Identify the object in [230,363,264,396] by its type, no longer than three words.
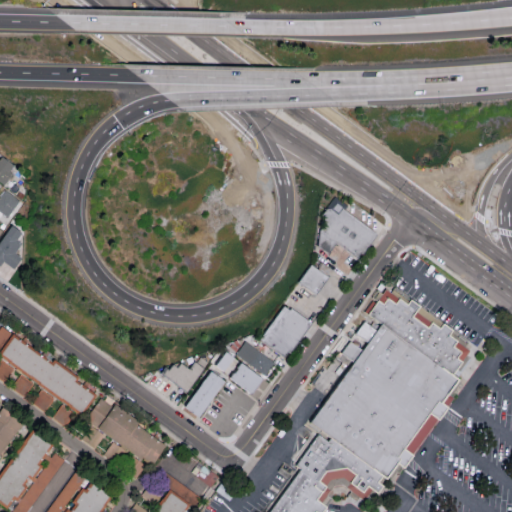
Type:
building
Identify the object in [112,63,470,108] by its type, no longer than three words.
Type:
overpass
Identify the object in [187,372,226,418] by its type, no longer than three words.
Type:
building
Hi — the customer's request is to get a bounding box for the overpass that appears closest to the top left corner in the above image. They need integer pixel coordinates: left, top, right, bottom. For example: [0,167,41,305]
[50,6,258,38]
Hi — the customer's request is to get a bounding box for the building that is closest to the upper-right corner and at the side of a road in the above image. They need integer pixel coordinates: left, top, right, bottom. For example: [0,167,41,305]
[320,196,378,258]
